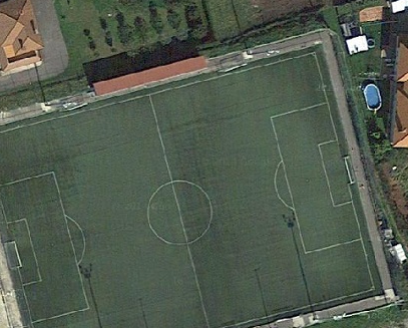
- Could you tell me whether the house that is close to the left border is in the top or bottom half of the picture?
top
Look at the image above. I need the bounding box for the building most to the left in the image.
[0,0,45,73]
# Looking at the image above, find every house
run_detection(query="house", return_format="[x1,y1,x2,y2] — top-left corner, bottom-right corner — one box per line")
[387,42,408,148]
[0,0,45,73]
[386,0,408,13]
